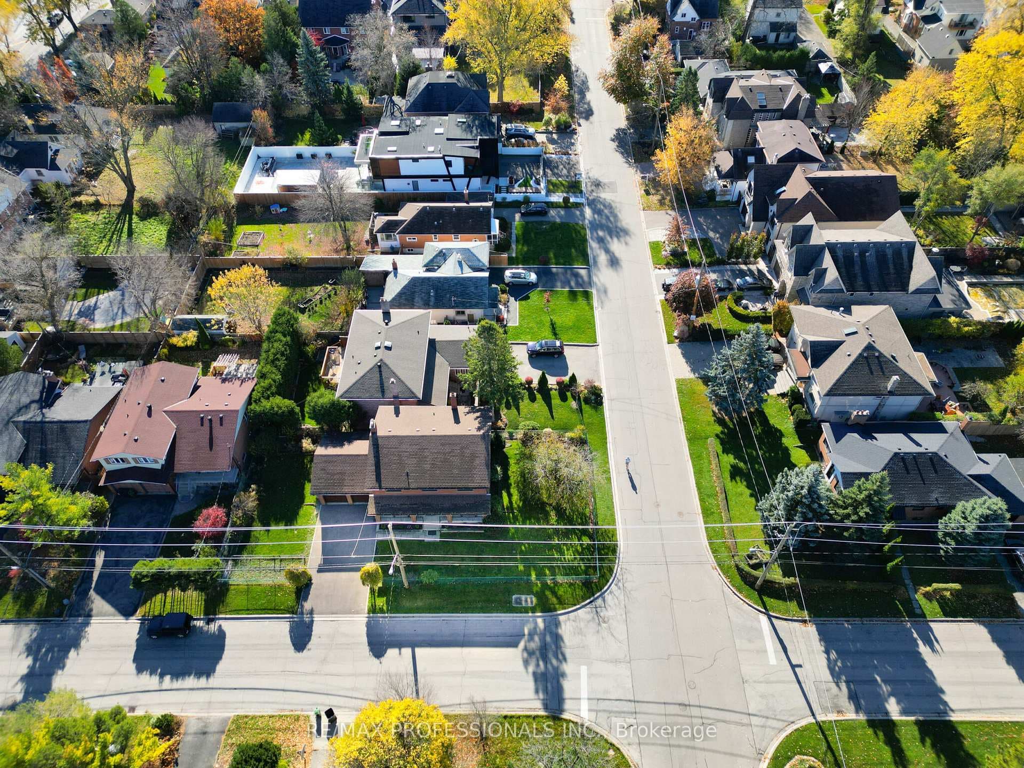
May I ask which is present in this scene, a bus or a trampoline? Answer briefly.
trampoline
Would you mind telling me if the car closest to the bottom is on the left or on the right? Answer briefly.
left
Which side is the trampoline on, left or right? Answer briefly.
left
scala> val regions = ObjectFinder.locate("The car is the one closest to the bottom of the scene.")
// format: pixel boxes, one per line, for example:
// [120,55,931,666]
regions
[139,609,198,639]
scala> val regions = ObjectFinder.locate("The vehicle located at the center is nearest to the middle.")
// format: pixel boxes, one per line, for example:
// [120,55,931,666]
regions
[526,338,565,357]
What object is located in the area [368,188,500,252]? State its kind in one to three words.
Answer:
house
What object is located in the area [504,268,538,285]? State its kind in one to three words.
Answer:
car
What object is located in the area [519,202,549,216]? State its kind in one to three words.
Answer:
car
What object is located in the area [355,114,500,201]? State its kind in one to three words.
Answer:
house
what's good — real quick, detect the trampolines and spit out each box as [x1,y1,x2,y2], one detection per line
[37,347,76,372]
